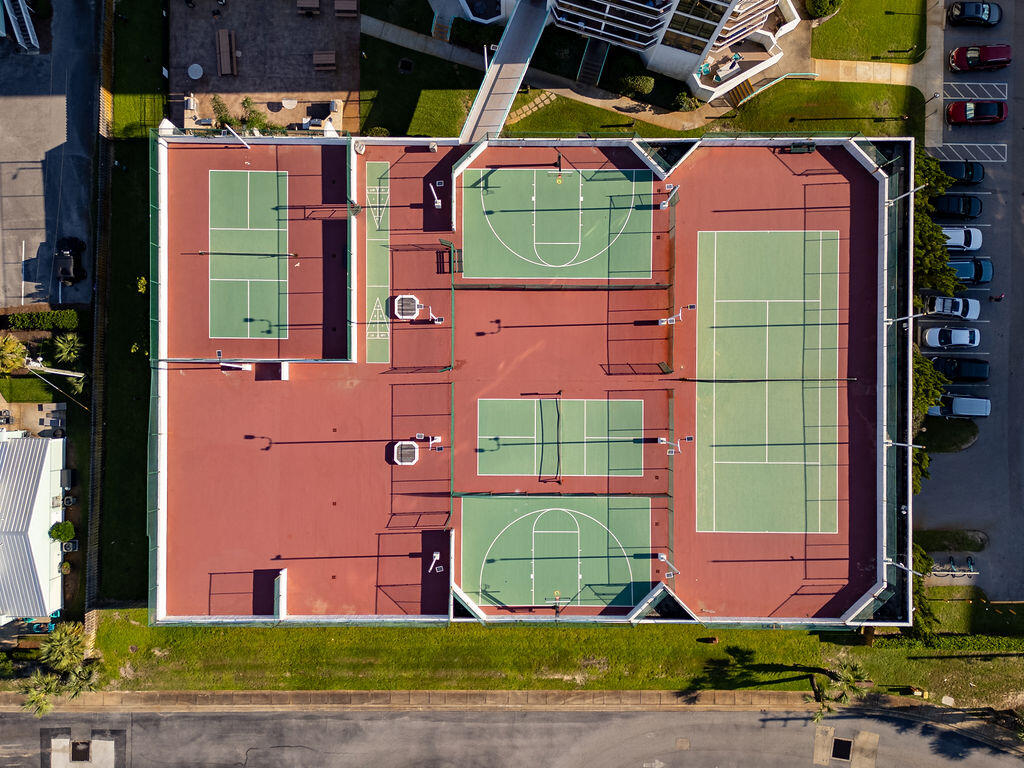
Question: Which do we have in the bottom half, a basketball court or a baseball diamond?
basketball court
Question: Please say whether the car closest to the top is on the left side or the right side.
right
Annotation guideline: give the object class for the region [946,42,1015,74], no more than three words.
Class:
car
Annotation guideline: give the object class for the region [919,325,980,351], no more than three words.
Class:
car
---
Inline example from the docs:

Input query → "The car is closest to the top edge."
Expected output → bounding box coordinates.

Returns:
[944,0,998,31]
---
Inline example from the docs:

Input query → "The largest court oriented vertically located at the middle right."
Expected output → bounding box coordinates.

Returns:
[696,230,840,534]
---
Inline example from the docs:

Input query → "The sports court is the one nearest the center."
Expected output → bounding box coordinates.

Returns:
[477,398,644,477]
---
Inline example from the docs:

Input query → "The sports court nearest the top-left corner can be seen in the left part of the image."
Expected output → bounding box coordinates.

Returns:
[209,169,289,339]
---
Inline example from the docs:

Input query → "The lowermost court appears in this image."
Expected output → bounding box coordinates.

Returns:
[461,496,652,606]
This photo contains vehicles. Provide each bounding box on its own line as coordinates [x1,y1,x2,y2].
[923,192,982,220]
[932,393,996,421]
[938,225,983,252]
[944,98,1007,127]
[944,0,998,31]
[919,325,980,351]
[946,42,1015,74]
[951,256,994,284]
[928,356,995,383]
[928,159,985,187]
[921,294,980,321]
[52,243,87,282]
